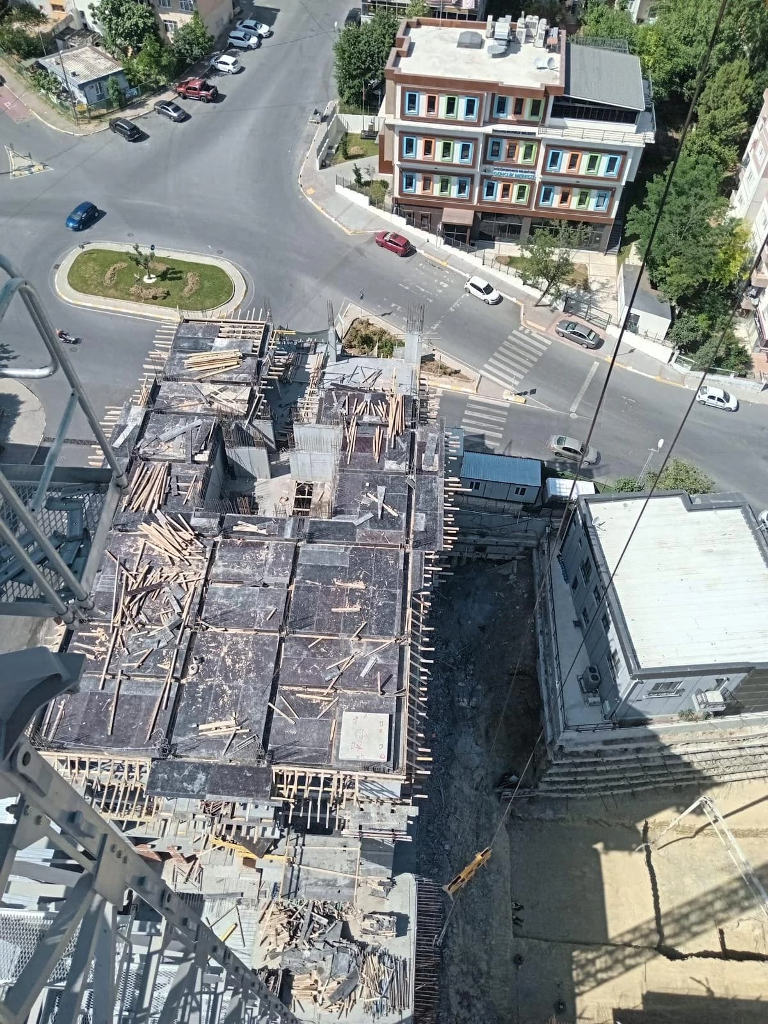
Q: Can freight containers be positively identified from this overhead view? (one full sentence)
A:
Yes, a freight container is visible in the scene.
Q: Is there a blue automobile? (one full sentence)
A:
Yes, the photo shows a blue automobile.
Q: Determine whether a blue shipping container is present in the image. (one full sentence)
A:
Yes, the photo shows a blue shipping container.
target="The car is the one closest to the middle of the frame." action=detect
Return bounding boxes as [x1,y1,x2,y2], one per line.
[545,433,603,468]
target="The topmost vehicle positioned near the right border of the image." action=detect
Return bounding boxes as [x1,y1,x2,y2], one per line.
[691,381,742,414]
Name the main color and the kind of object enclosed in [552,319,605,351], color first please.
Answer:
gray car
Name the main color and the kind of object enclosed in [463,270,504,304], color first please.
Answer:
white car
